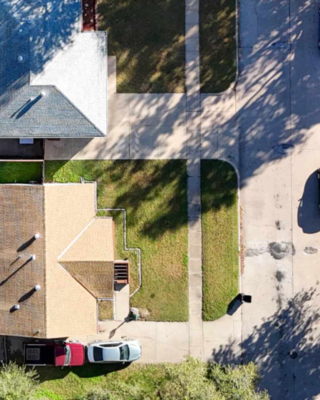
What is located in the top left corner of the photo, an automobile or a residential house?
residential house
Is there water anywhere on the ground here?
No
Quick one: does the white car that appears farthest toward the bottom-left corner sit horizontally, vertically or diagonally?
horizontally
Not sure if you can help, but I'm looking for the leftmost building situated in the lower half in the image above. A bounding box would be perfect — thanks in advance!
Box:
[0,182,116,339]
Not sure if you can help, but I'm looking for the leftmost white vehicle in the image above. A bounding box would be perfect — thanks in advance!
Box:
[83,339,140,366]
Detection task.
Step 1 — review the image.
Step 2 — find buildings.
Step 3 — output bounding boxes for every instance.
[0,182,116,339]
[0,0,109,139]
